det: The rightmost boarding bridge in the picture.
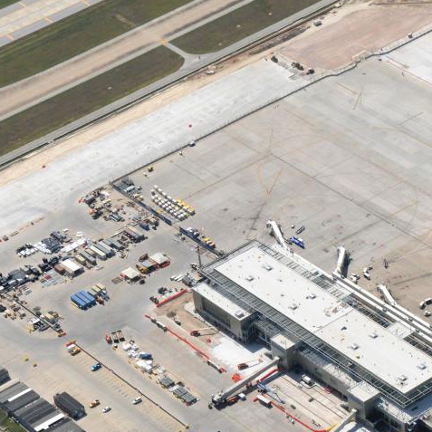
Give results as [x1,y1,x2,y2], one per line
[377,282,397,307]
